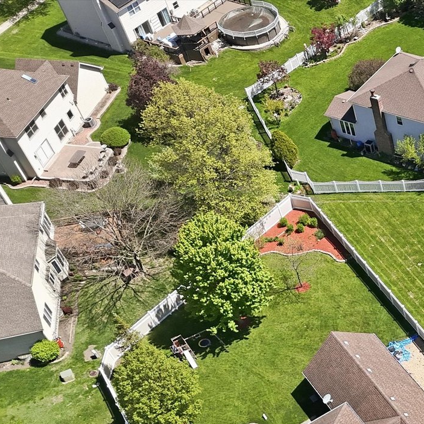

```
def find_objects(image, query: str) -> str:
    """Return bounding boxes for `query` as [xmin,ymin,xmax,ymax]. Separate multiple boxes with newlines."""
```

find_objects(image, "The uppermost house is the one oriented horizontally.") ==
[68,0,185,50]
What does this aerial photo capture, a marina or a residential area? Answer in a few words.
residential area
